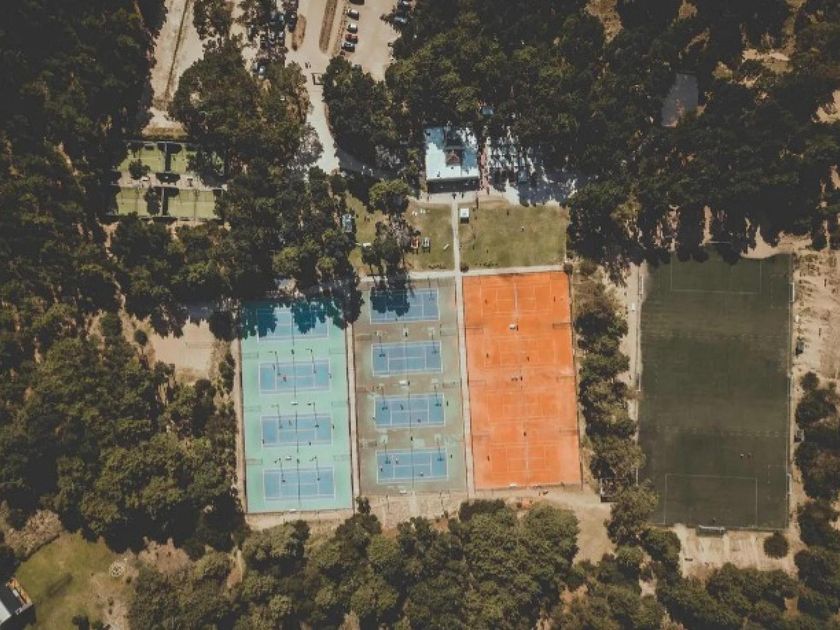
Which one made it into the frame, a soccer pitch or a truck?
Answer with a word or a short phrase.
soccer pitch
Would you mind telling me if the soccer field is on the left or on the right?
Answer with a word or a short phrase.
right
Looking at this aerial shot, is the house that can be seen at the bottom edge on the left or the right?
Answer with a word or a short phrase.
left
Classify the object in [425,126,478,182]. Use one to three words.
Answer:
building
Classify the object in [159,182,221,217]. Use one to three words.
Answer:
sports court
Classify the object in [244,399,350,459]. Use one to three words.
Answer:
tennis court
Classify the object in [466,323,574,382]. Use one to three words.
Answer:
tennis court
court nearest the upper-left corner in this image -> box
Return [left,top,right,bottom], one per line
[107,138,167,172]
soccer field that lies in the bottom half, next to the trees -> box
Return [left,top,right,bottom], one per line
[638,246,791,529]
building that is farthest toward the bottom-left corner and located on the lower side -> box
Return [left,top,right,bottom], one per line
[0,578,34,627]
